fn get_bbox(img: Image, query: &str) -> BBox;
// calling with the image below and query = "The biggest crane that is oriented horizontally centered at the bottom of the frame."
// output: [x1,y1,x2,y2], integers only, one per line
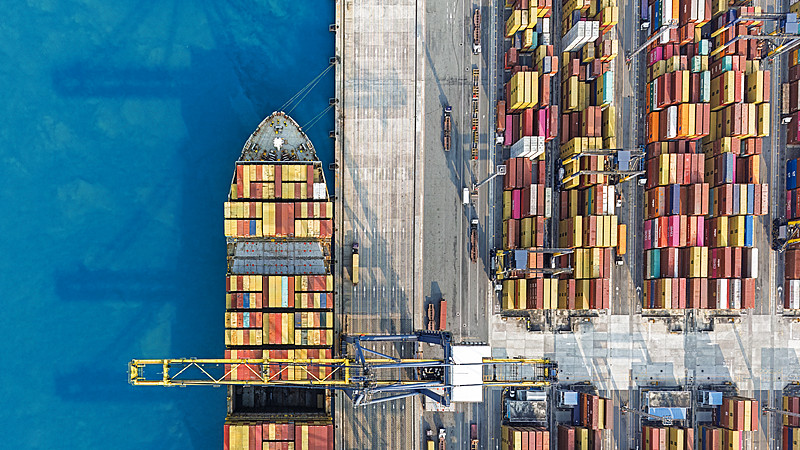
[130,327,557,406]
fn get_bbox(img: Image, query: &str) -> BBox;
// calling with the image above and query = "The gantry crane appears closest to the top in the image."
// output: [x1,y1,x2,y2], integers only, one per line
[696,9,800,62]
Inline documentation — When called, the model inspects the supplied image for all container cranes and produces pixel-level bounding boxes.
[696,9,800,62]
[775,219,800,254]
[489,246,577,281]
[555,141,648,183]
[130,327,557,406]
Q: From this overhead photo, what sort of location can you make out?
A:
port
